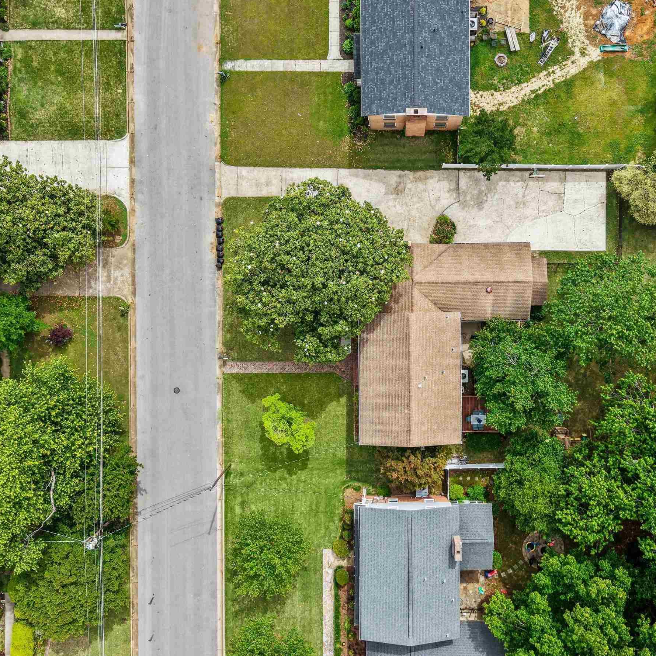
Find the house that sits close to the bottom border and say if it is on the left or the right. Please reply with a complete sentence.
It is on the right.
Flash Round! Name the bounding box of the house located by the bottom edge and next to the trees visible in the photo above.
[353,498,519,656]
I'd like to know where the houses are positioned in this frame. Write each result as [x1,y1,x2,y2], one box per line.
[354,241,549,451]
[353,498,519,656]
[353,0,470,142]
